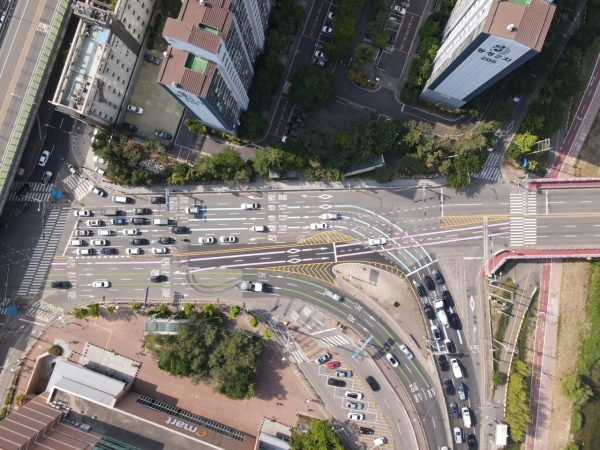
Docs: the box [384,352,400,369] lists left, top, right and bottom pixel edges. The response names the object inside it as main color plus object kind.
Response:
white car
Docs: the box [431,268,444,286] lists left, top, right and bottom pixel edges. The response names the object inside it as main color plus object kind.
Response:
gray vehicle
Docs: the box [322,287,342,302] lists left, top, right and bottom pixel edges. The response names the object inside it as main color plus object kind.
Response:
white vehicle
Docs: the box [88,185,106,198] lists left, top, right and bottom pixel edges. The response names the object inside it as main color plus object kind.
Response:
white vehicle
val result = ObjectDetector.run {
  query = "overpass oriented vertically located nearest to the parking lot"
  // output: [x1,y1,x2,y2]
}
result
[0,0,75,212]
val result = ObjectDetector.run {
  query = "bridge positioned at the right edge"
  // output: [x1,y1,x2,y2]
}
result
[482,177,600,279]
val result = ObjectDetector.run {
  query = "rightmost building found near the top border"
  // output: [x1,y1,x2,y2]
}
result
[420,0,560,110]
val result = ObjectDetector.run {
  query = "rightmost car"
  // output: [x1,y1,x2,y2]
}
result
[509,90,524,107]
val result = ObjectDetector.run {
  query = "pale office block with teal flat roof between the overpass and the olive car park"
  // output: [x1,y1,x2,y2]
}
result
[55,0,154,130]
